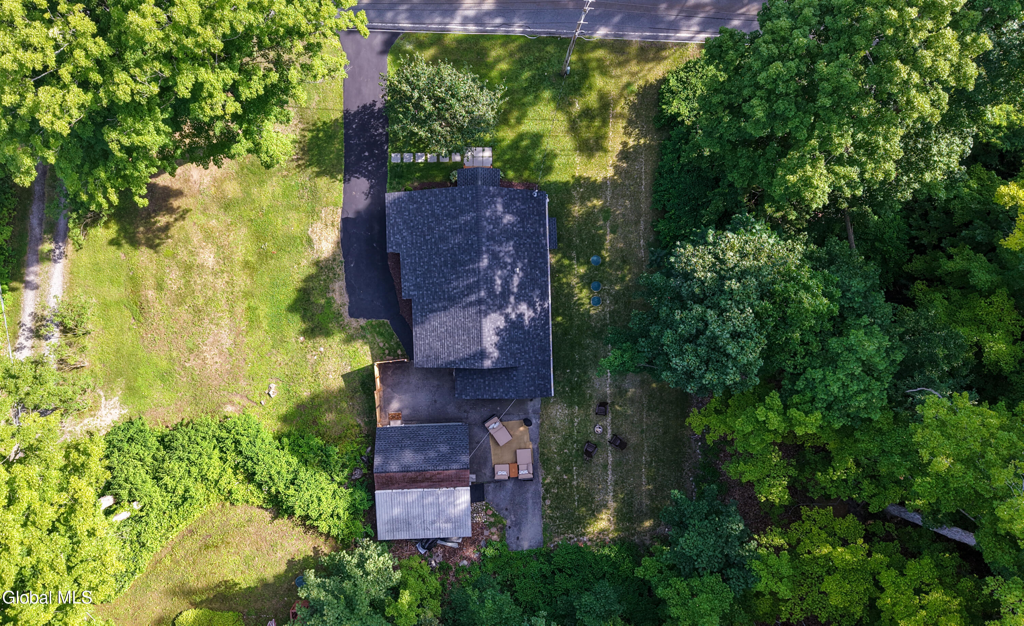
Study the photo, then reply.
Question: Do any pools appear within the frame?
No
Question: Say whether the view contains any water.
No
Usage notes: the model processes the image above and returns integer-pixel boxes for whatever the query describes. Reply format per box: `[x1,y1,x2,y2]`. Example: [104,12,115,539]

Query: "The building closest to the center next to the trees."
[386,165,557,399]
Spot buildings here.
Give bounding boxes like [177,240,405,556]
[373,422,471,540]
[386,165,557,399]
